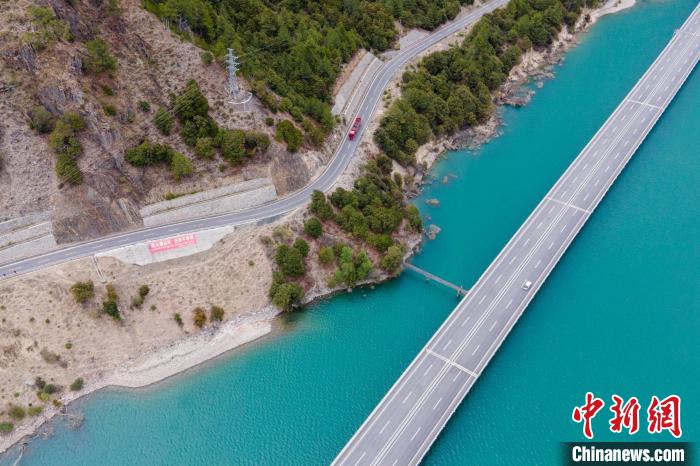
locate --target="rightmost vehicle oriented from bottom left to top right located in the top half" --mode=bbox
[345,121,360,141]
